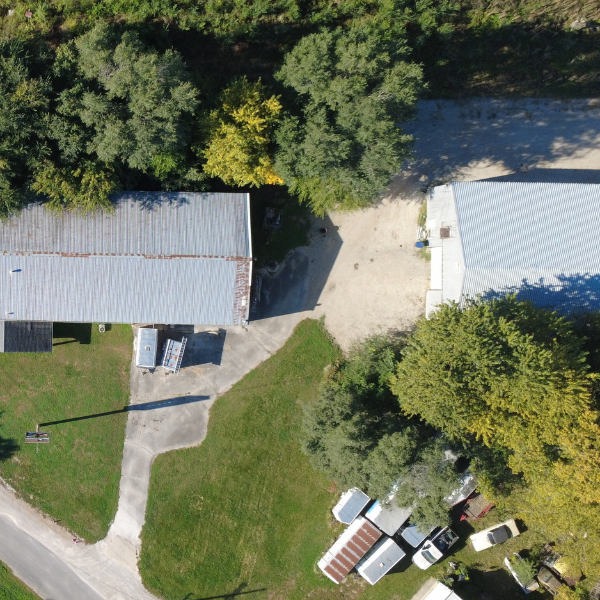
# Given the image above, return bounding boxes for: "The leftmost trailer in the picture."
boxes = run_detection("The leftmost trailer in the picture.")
[133,326,158,376]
